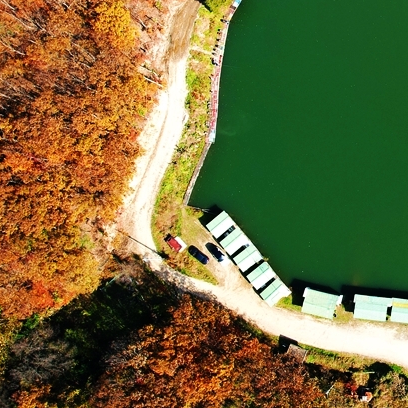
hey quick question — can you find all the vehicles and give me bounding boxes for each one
[185,243,212,268]
[202,239,227,265]
[165,234,183,253]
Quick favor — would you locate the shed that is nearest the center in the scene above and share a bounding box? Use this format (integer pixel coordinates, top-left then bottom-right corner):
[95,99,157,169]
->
[207,211,238,238]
